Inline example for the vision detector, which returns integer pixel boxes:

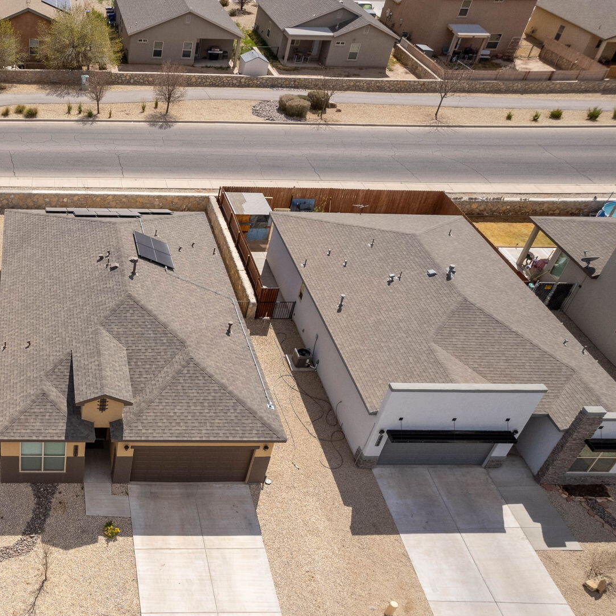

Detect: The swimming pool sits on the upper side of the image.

[594,202,616,216]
